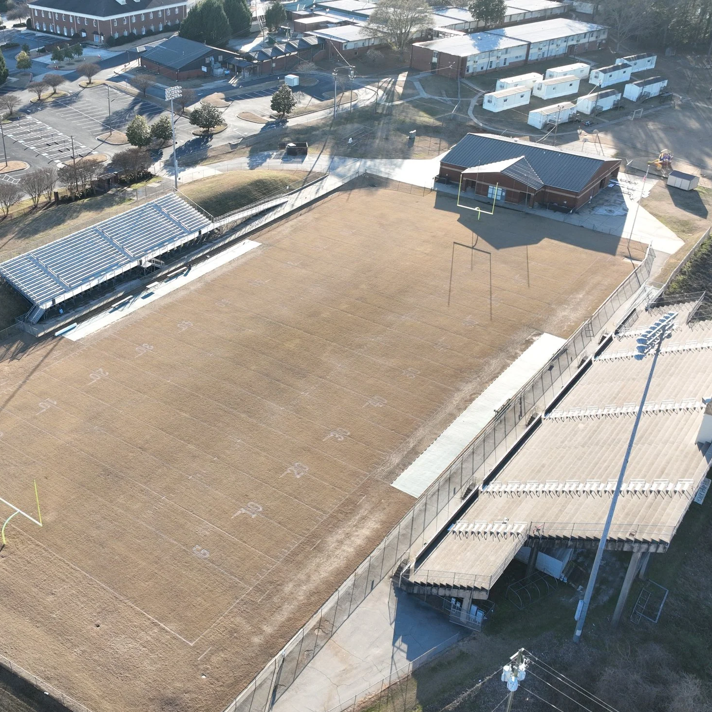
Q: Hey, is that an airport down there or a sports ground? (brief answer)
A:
sports ground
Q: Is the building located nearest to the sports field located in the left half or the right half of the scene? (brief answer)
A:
right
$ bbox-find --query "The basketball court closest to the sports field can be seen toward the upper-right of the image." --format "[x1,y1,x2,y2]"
[565,128,618,150]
